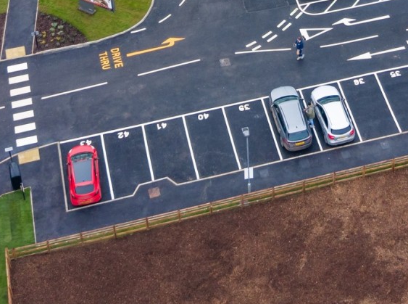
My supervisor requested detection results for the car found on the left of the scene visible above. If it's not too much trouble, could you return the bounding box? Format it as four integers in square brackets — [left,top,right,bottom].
[65,146,105,212]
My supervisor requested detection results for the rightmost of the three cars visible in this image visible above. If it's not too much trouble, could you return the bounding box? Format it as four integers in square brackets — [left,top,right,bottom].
[307,89,361,147]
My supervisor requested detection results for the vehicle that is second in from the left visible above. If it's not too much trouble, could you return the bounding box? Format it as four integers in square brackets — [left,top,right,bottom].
[266,89,319,154]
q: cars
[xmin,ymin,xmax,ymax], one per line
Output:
[307,89,361,147]
[65,146,105,212]
[266,89,319,154]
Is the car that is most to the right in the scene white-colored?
Yes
